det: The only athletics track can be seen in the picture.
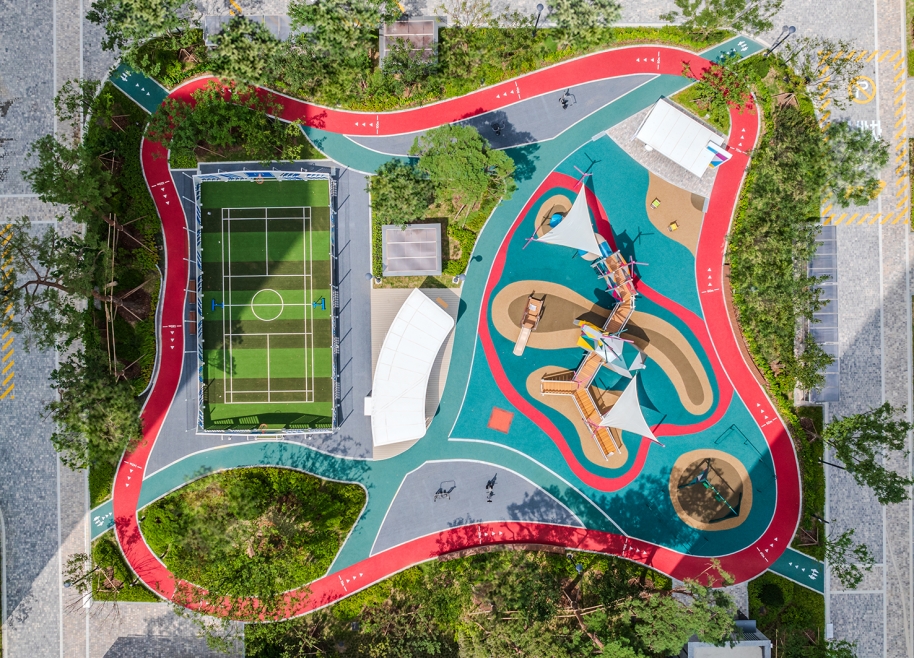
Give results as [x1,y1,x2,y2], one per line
[112,44,803,624]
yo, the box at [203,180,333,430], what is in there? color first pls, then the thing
green sports court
